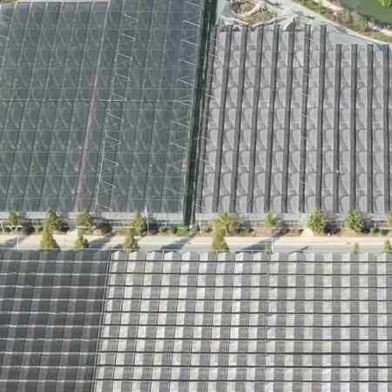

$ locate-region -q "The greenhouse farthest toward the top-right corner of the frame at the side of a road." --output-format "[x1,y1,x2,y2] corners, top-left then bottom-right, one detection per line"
[192,24,392,230]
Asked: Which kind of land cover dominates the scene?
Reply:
buildings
